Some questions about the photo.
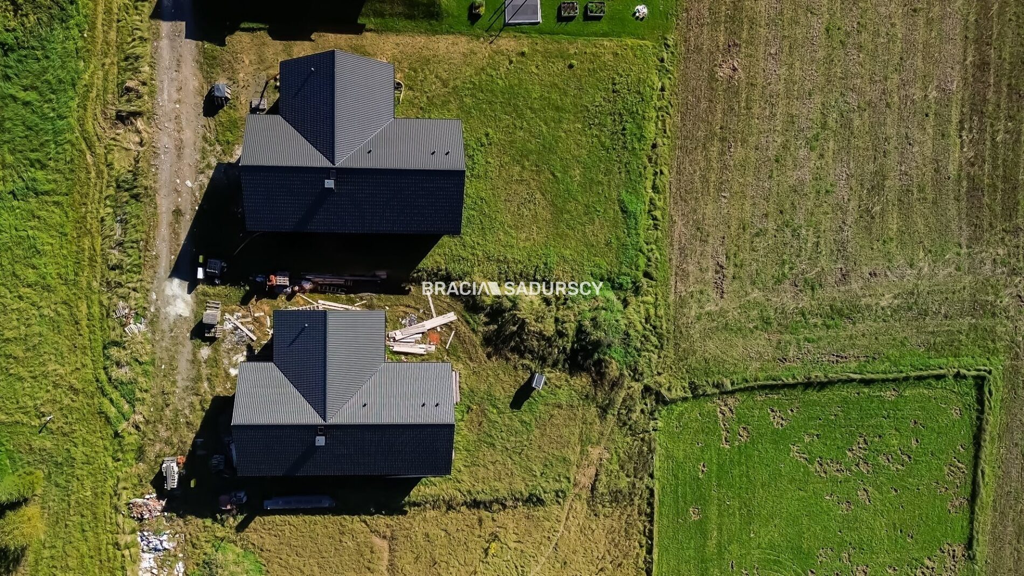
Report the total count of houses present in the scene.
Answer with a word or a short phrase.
2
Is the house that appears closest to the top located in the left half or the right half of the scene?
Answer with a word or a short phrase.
left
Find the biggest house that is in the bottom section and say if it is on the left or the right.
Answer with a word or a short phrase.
left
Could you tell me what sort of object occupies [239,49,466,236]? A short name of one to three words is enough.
house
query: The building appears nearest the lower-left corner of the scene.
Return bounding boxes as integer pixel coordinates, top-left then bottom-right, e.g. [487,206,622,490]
[230,310,455,477]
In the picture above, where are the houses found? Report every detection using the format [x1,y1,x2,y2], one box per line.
[239,49,466,236]
[230,310,455,477]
